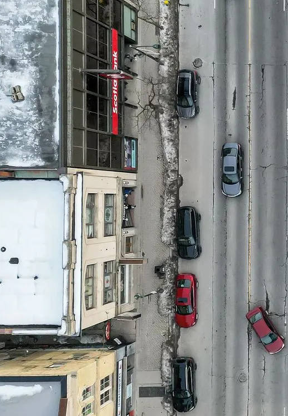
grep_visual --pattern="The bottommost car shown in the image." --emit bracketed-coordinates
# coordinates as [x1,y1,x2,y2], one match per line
[170,356,199,412]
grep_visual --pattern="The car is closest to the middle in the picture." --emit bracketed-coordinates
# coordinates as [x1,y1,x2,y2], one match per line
[174,206,203,259]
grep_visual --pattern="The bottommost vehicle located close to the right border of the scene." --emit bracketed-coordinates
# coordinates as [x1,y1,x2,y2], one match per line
[247,303,285,356]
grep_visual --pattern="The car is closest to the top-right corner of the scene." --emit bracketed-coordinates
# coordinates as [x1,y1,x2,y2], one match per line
[174,69,202,119]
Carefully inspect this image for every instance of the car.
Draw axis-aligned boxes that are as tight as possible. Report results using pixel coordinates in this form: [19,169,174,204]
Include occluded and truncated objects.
[219,144,245,198]
[174,69,202,119]
[170,356,199,412]
[173,274,201,328]
[174,206,203,259]
[247,303,285,356]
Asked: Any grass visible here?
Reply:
No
